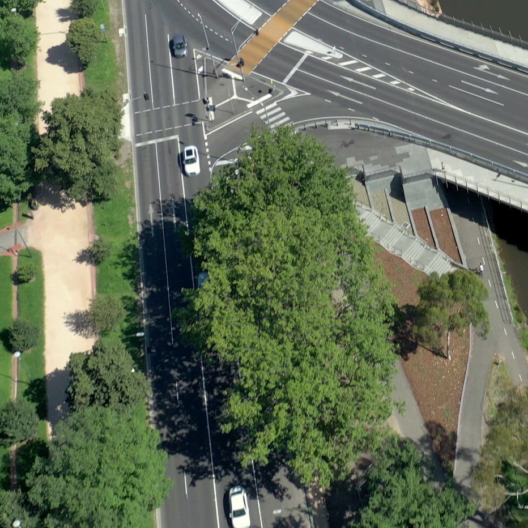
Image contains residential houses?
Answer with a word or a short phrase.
No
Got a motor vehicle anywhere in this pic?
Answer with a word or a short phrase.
Yes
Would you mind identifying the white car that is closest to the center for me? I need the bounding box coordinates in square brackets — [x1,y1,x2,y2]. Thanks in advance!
[183,143,201,174]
